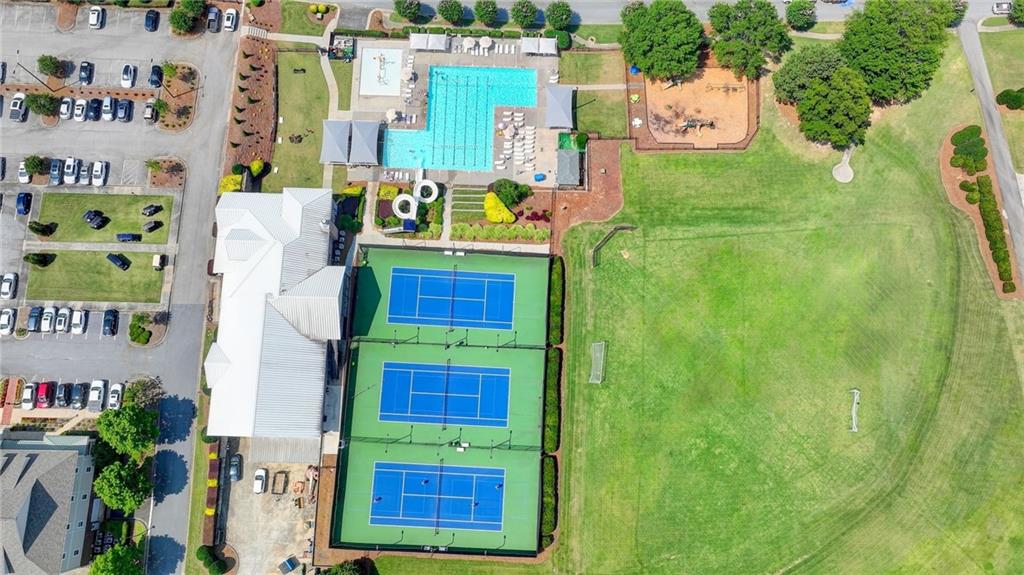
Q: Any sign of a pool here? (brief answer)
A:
Yes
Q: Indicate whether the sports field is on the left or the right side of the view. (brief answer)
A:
right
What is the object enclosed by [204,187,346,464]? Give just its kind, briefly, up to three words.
building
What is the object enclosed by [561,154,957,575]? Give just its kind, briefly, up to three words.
sports field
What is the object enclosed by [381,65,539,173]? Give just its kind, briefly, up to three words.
swimming pool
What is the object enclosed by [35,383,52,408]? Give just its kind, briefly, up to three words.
car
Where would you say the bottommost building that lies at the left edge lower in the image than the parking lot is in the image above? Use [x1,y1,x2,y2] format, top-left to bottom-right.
[0,431,92,575]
